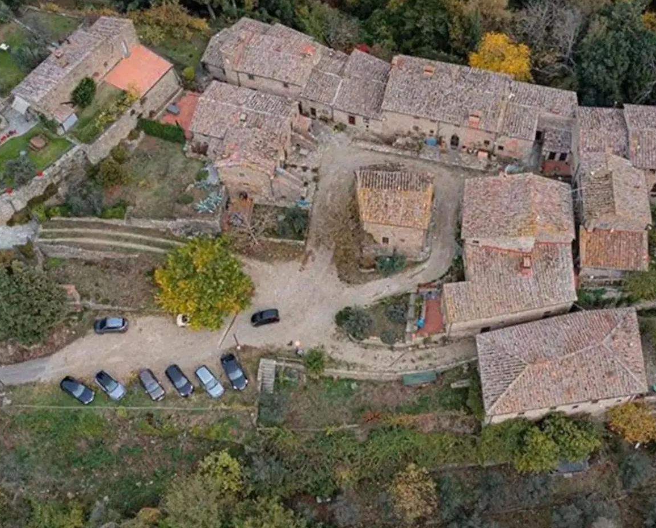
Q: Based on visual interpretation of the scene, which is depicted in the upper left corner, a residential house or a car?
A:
residential house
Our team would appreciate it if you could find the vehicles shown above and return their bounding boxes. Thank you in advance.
[194,366,224,398]
[59,375,95,404]
[137,368,165,400]
[95,370,125,400]
[93,317,129,334]
[222,353,248,390]
[251,309,280,327]
[165,365,193,397]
